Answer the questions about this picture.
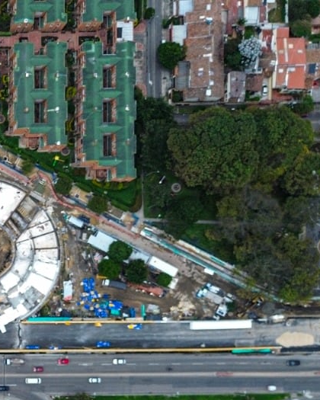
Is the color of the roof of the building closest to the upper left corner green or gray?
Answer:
green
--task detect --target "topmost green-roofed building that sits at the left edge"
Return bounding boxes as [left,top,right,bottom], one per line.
[8,0,68,36]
